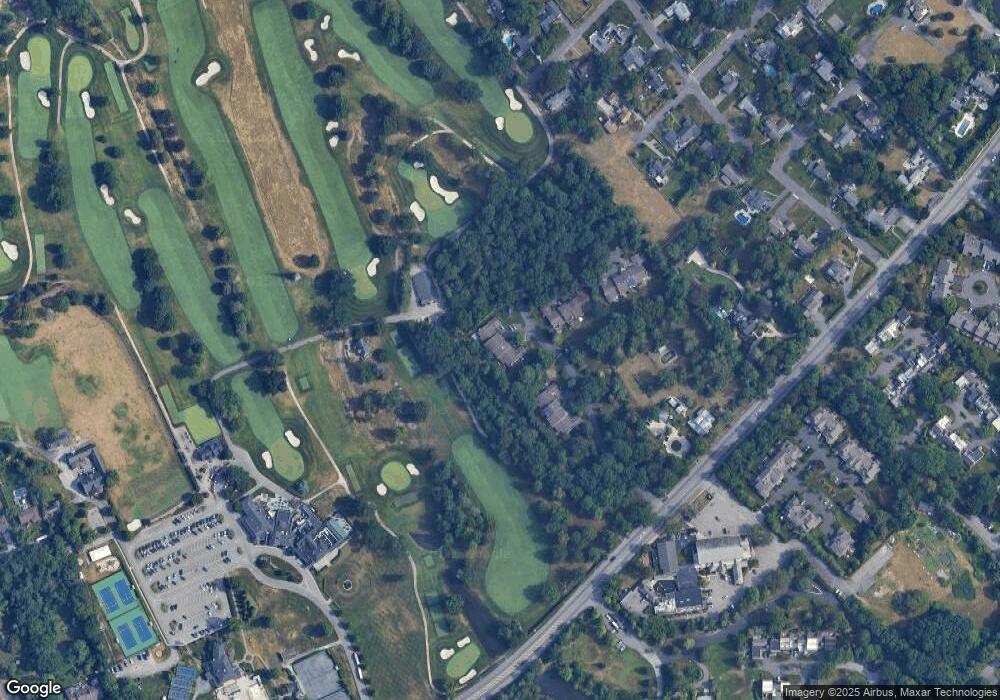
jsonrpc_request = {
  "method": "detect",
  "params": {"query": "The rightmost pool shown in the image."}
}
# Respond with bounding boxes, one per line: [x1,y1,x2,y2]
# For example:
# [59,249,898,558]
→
[952,111,975,139]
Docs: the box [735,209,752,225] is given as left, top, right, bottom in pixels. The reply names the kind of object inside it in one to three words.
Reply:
swimming pool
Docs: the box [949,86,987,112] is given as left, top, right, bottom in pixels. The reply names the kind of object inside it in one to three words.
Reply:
house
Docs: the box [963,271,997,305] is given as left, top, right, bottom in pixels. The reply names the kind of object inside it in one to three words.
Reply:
roundabout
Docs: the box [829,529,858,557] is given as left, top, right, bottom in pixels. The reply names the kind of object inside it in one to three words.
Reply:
building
